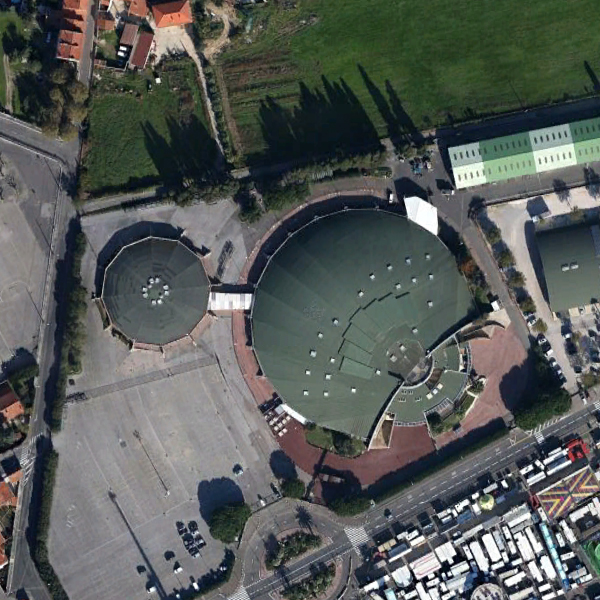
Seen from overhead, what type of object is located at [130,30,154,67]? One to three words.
barn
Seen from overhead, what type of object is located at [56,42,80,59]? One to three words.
house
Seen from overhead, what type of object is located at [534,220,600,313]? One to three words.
building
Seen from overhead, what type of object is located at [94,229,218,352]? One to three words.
building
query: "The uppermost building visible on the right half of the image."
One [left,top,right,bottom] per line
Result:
[448,117,600,189]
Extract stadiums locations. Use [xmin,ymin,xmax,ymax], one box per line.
[244,203,511,449]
